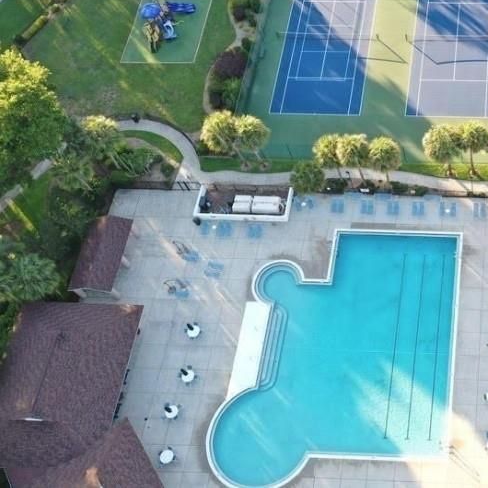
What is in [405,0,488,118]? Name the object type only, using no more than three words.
tennis court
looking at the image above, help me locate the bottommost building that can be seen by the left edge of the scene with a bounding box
[0,300,171,488]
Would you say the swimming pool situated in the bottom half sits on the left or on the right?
right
